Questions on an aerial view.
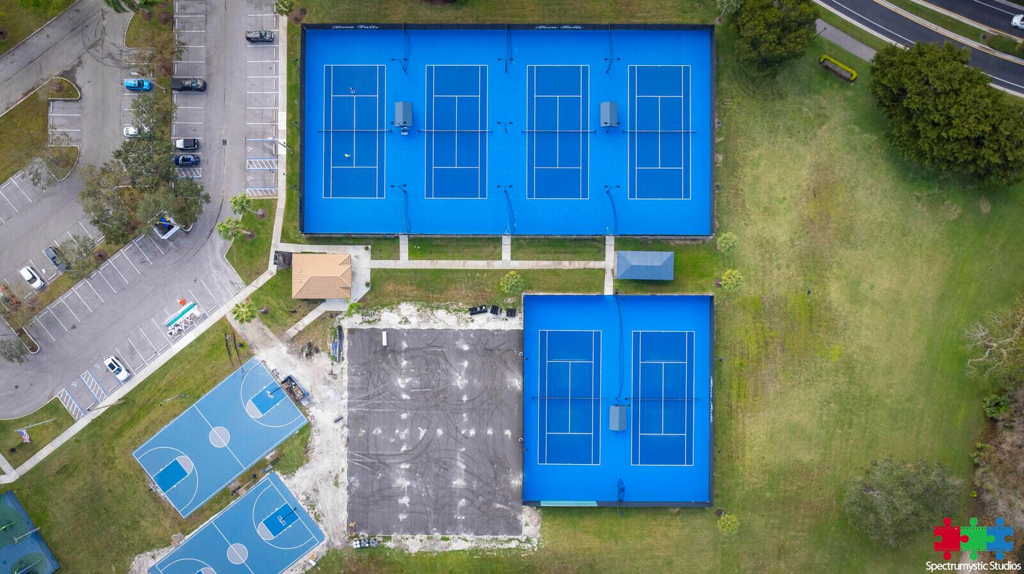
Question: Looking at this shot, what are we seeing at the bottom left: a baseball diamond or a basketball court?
basketball court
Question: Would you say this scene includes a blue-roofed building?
Yes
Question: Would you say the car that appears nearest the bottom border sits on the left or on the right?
left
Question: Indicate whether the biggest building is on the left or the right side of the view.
left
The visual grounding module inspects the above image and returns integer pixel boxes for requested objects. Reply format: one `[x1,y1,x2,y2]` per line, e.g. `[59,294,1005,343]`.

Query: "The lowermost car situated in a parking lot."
[104,355,129,381]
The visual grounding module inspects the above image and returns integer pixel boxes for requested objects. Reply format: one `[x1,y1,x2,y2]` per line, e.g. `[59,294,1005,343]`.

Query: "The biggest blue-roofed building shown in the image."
[617,251,674,280]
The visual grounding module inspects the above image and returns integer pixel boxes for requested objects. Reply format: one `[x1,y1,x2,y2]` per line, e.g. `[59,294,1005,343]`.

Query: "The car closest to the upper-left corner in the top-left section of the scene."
[125,78,153,91]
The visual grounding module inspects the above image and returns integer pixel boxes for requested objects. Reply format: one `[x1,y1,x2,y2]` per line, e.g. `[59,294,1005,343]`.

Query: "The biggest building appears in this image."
[292,254,351,299]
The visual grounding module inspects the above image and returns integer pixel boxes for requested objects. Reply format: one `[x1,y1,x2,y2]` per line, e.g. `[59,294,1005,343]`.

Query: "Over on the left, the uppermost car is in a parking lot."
[245,29,275,43]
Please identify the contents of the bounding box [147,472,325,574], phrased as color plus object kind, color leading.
blue basketball court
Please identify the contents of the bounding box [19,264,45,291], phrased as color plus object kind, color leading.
white car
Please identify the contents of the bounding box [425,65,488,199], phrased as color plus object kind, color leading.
blue tennis court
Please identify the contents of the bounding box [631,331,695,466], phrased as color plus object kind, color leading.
blue tennis court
